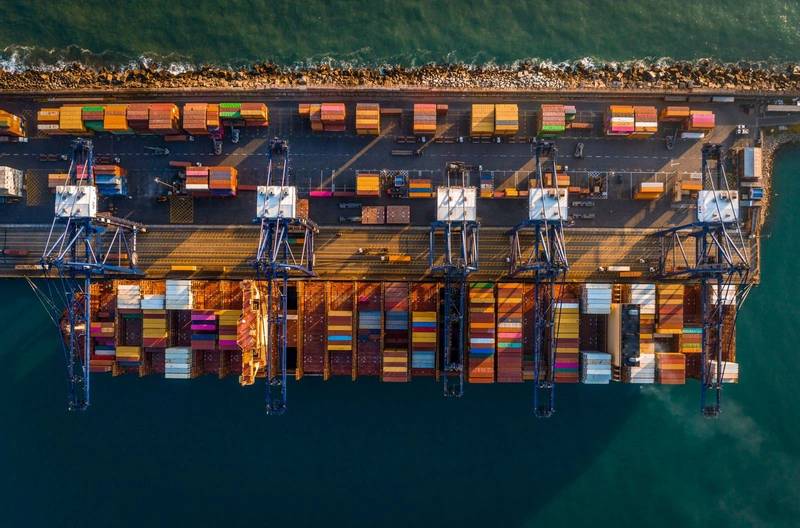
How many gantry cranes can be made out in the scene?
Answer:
5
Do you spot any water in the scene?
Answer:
Yes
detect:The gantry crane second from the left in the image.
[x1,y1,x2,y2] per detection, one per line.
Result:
[255,138,323,417]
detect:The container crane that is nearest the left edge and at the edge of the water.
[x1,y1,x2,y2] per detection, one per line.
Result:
[42,141,150,414]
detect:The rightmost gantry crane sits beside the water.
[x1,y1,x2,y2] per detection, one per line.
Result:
[648,143,748,421]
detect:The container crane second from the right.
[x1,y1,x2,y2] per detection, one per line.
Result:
[504,141,573,422]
